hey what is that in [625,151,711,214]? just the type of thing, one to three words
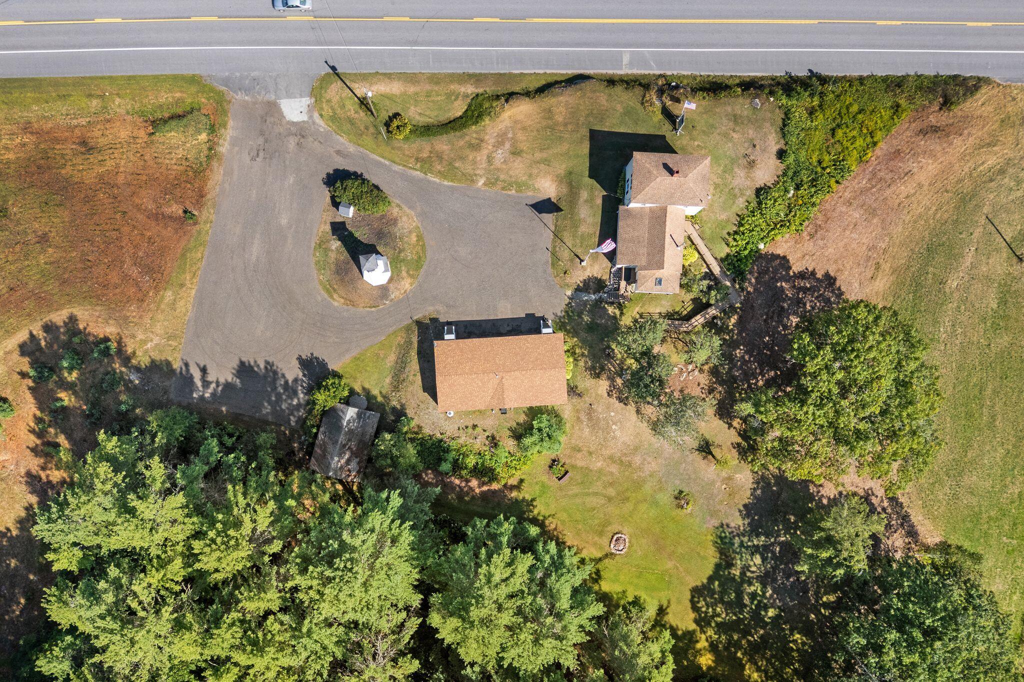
house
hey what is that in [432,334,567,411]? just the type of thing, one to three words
building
